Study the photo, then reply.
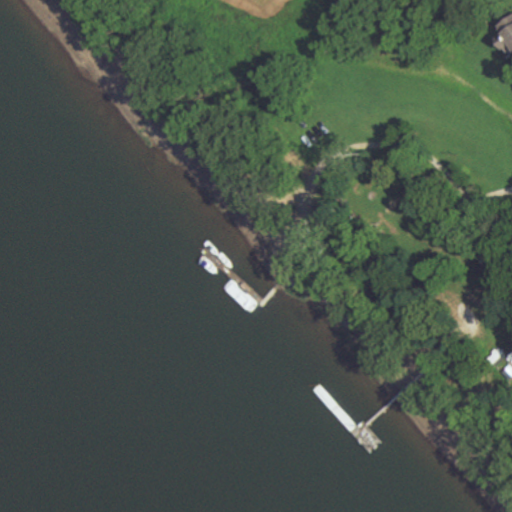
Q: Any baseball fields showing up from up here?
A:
No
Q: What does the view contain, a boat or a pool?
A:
boat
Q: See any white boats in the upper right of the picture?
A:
No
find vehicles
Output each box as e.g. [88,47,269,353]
[306,131,317,142]
[465,310,474,323]
[316,121,329,134]
[312,126,322,137]
[301,136,312,147]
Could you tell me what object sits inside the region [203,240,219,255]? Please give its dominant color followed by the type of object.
white boat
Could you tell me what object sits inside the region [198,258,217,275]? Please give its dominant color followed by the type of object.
white boat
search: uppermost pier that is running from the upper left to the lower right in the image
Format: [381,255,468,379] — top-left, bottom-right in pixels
[201,248,262,306]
